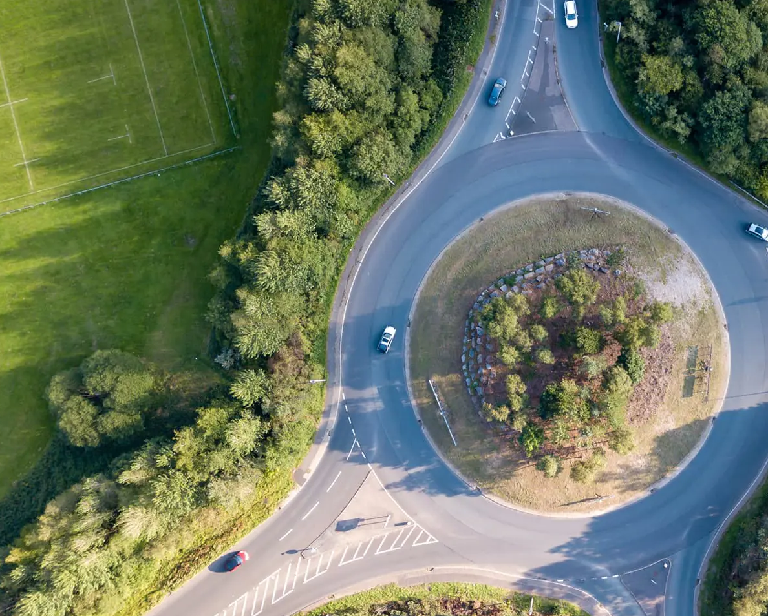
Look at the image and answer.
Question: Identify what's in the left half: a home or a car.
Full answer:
What appears in the left half is a car.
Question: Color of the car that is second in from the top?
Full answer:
The car that is second in from the top is blue.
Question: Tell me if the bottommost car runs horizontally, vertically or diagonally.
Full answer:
I'd say the bottommost car is aligned diagonally in the picture.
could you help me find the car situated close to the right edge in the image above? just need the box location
[744,221,768,242]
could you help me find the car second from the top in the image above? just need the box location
[485,78,509,108]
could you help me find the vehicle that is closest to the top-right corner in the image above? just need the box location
[564,0,579,30]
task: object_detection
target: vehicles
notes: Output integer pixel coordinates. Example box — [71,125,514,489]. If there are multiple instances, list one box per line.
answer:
[744,221,768,242]
[564,0,579,30]
[485,78,509,108]
[376,325,397,354]
[222,548,249,573]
